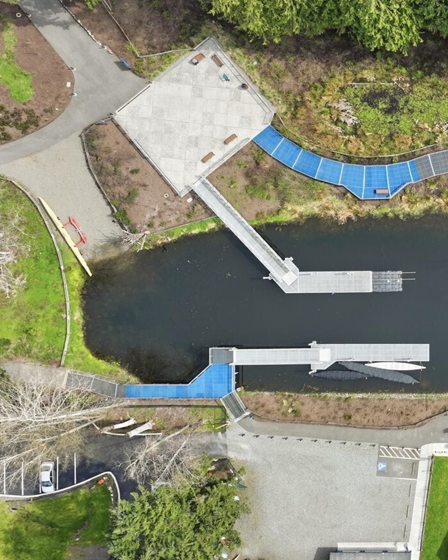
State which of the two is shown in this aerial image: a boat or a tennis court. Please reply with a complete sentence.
I can see a boat in this picture.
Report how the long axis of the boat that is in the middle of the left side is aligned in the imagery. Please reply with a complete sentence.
The boat that is in the middle of the left side runs diagonally in the image.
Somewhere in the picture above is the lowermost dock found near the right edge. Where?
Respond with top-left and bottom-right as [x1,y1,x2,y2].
[310,343,429,369]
